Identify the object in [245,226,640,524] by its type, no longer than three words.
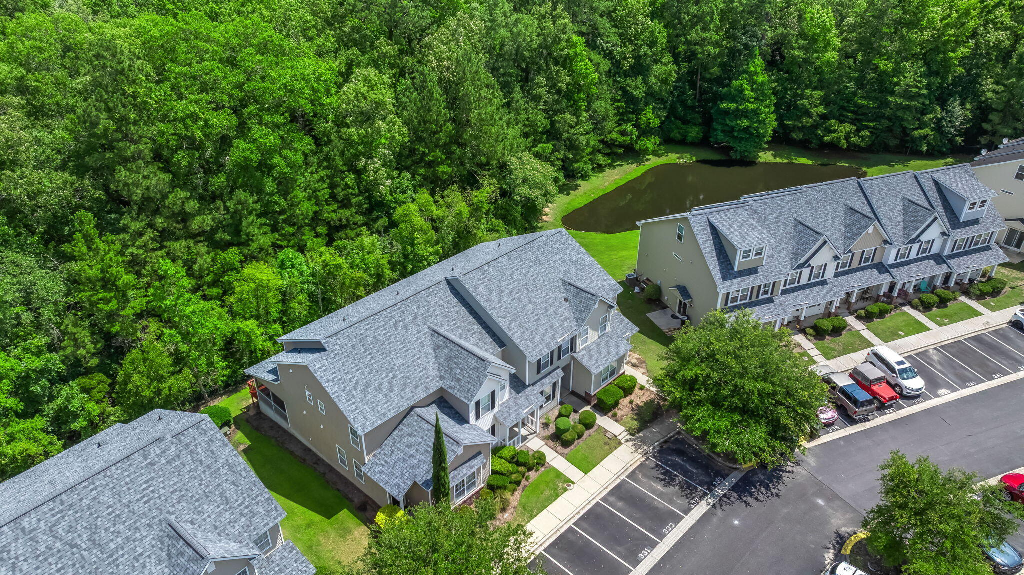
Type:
building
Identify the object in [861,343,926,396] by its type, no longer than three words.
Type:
car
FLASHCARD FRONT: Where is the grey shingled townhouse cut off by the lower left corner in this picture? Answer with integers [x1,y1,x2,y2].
[0,408,318,575]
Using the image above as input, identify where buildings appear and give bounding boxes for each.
[0,408,318,575]
[245,226,640,524]
[635,163,1013,338]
